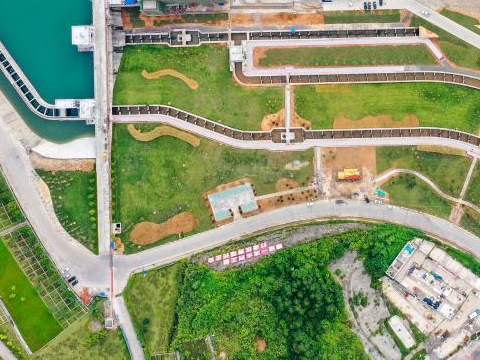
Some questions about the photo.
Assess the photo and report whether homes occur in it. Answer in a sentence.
Yes, the picture does show a home.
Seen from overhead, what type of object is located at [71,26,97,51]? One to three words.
building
